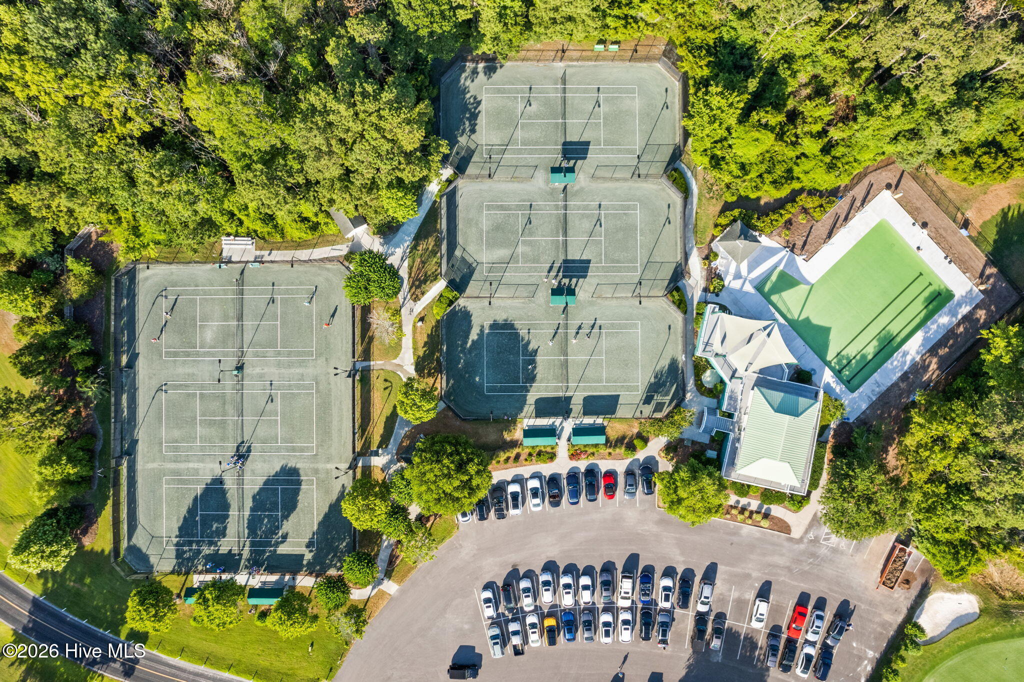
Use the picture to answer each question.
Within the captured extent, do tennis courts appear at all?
Yes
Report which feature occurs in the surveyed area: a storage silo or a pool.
pool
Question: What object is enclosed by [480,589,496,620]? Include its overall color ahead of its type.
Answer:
white car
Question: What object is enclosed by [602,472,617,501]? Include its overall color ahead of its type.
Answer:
red car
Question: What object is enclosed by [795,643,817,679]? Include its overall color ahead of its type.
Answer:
white car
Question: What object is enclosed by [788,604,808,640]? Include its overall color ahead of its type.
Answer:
red car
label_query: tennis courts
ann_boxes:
[441,179,683,297]
[441,63,681,179]
[125,262,354,370]
[125,465,353,572]
[125,370,352,465]
[443,297,685,419]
